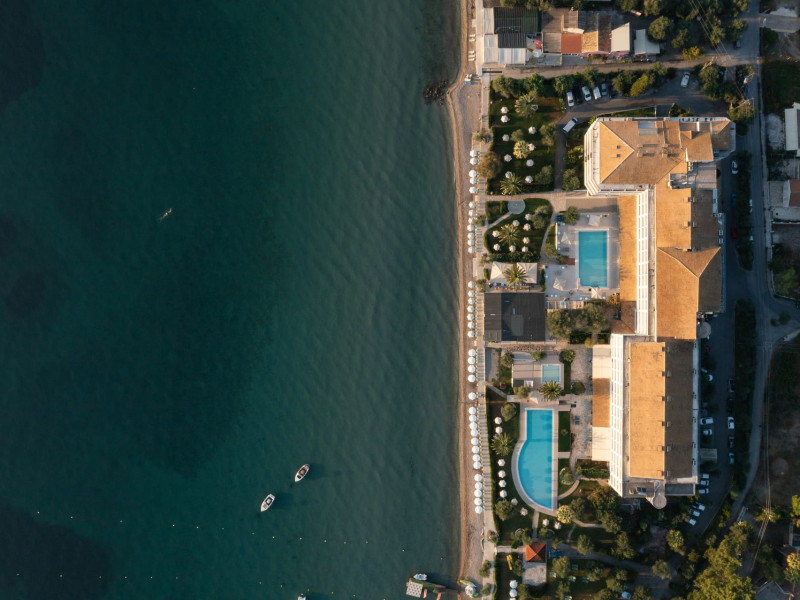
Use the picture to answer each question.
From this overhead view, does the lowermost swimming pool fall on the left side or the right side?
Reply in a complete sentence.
The lowermost swimming pool sits on the right side.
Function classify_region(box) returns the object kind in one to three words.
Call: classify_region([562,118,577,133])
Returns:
vehicle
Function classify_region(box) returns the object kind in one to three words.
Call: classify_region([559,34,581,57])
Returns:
building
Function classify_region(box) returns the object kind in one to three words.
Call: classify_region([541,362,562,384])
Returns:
swimming pool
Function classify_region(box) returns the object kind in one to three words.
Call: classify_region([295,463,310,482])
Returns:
boat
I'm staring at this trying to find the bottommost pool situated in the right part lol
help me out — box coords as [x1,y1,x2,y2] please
[516,408,554,511]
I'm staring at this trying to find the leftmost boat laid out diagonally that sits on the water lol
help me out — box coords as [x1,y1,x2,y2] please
[261,493,275,512]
